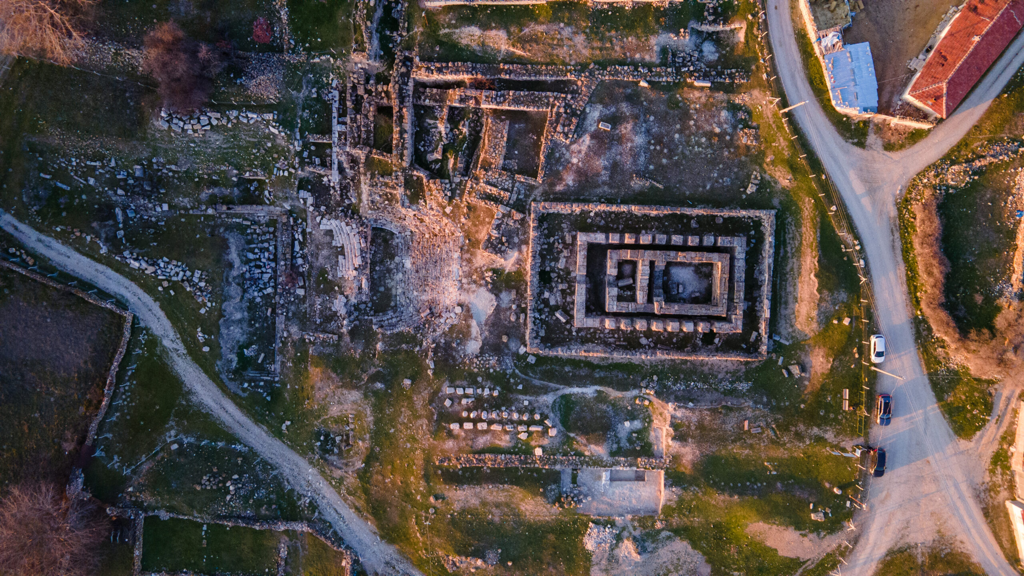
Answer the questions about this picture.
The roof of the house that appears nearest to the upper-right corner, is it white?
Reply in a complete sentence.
No, the color of the roof of the house that appears nearest to the upper-right corner is red.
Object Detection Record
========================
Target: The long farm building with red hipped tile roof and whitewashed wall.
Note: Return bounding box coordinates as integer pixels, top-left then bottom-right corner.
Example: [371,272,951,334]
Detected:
[899,0,1024,119]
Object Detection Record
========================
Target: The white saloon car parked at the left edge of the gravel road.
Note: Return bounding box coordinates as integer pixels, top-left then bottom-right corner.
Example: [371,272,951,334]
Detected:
[869,336,885,363]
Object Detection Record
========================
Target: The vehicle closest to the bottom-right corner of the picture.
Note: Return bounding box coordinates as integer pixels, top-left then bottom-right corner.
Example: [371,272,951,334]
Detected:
[871,450,887,477]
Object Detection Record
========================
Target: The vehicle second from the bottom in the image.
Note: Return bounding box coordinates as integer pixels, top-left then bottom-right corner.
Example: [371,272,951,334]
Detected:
[876,396,892,423]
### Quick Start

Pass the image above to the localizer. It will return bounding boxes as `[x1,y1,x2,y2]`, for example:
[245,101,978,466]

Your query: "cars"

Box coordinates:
[869,336,885,363]
[871,450,887,477]
[876,396,892,423]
